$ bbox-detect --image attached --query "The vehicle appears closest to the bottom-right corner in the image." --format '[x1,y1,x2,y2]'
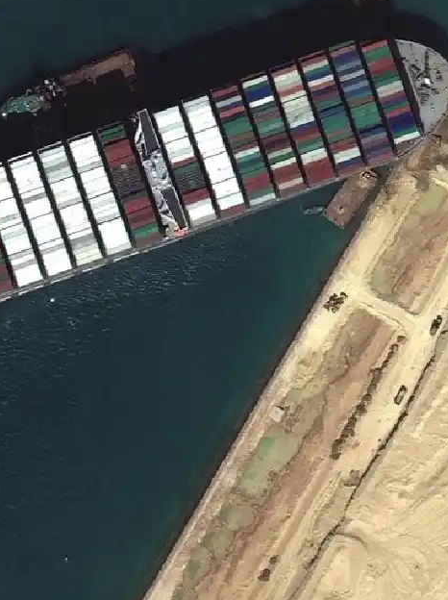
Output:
[394,385,407,404]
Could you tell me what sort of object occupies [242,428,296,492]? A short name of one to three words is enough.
pond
